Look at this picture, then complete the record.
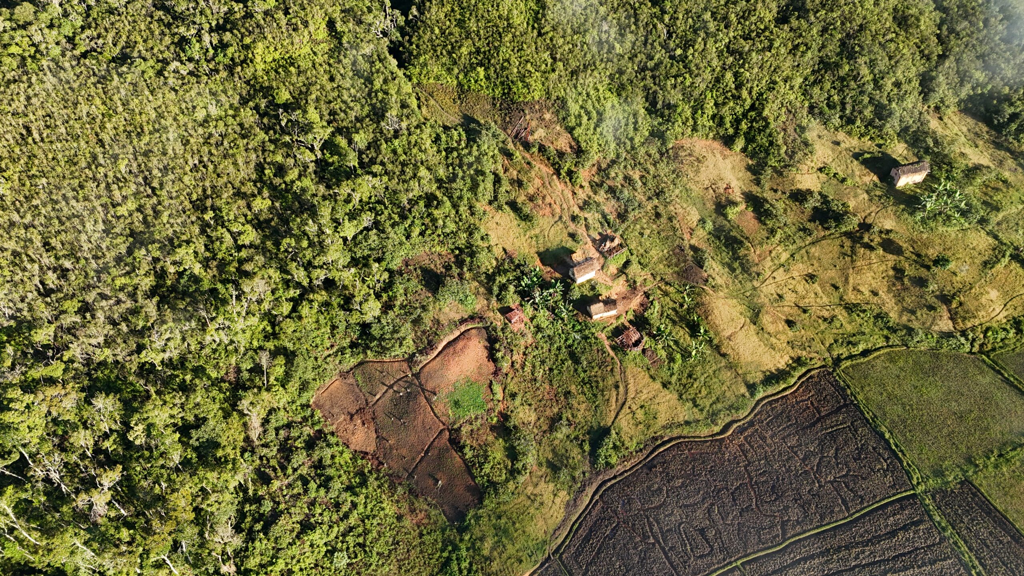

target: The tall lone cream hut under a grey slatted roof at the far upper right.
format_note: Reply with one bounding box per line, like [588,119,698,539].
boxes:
[889,161,932,187]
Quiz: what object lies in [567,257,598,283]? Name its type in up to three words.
shed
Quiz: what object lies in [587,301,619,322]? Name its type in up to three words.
shed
